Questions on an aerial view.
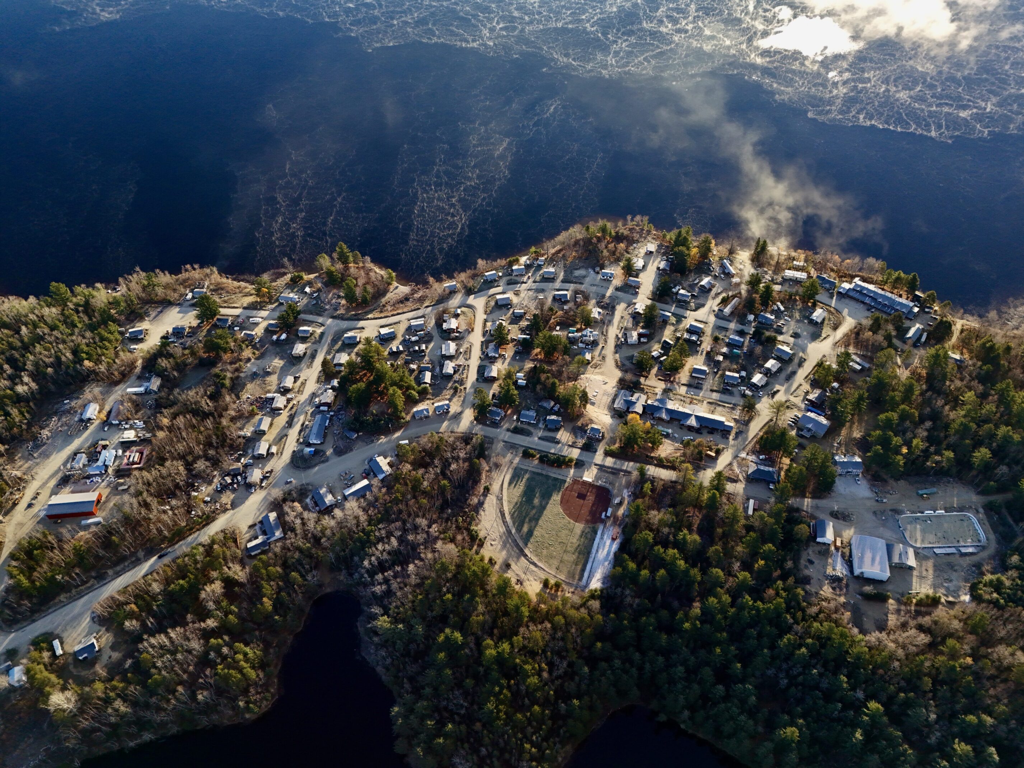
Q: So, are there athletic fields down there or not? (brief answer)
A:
Yes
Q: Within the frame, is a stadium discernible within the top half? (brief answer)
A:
No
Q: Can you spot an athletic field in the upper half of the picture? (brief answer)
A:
No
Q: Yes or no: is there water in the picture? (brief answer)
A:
Yes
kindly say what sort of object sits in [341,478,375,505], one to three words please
house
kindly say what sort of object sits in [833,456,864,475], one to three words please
house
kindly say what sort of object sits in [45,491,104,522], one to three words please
barn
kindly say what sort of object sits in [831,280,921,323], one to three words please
building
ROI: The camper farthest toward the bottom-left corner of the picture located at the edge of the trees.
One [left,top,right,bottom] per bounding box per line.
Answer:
[50,637,62,655]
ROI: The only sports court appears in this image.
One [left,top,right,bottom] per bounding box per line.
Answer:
[899,511,987,548]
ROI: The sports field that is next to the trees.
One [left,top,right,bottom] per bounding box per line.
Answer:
[507,467,600,584]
